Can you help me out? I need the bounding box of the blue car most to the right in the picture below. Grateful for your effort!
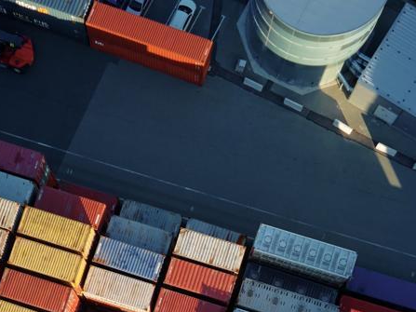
[166,0,198,31]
